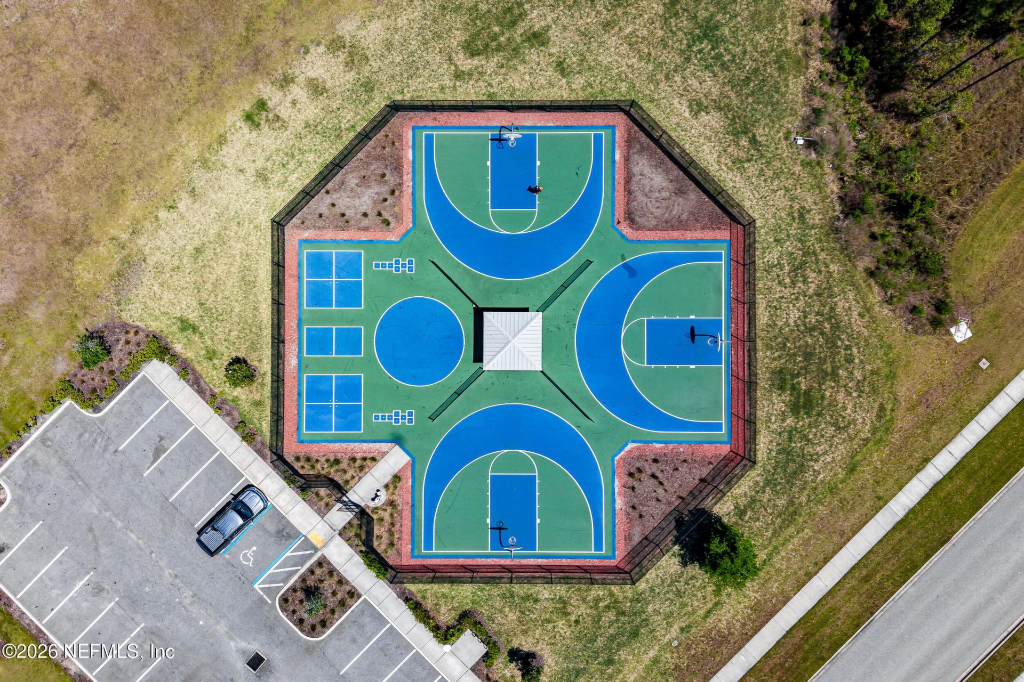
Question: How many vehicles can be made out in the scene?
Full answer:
My tally gives 1 vehicle in this photo.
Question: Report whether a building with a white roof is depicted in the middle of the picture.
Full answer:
Yes, the scene does show a building with a white roof in the middle of the picture.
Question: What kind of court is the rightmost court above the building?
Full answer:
From above, the rightmost court above the building can be identified as a basketball court.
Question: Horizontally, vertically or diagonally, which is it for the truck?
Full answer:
The truck is laid out diagonally.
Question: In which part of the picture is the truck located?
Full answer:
Look in the bottom left portion of the view to spot the truck.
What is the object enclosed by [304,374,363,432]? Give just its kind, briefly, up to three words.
sports court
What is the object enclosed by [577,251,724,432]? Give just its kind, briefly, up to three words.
basketball court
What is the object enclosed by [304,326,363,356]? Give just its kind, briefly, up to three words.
sports court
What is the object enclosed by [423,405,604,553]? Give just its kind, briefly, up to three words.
basketball court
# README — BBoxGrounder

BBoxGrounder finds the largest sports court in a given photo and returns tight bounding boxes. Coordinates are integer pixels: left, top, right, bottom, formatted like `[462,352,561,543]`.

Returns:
[298,125,731,559]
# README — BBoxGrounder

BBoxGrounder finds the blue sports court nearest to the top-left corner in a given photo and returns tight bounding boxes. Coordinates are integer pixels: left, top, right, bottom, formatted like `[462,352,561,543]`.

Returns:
[304,250,363,308]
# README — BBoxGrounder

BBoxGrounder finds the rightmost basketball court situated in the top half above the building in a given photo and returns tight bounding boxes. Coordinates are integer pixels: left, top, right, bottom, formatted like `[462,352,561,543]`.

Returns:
[423,132,604,279]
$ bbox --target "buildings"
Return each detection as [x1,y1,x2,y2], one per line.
[483,311,543,371]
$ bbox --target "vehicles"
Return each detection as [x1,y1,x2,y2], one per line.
[195,489,268,558]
